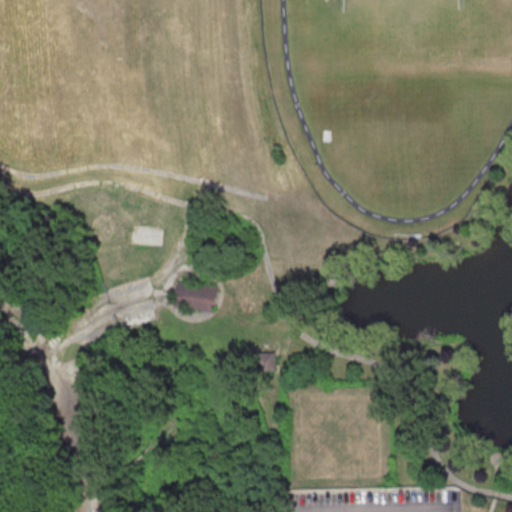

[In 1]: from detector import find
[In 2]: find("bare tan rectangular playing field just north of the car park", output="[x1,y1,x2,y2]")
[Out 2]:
[288,386,387,481]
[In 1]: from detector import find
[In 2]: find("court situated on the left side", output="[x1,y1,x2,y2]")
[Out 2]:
[132,226,164,248]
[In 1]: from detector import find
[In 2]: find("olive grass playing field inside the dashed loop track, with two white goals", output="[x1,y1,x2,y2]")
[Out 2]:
[286,0,512,219]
